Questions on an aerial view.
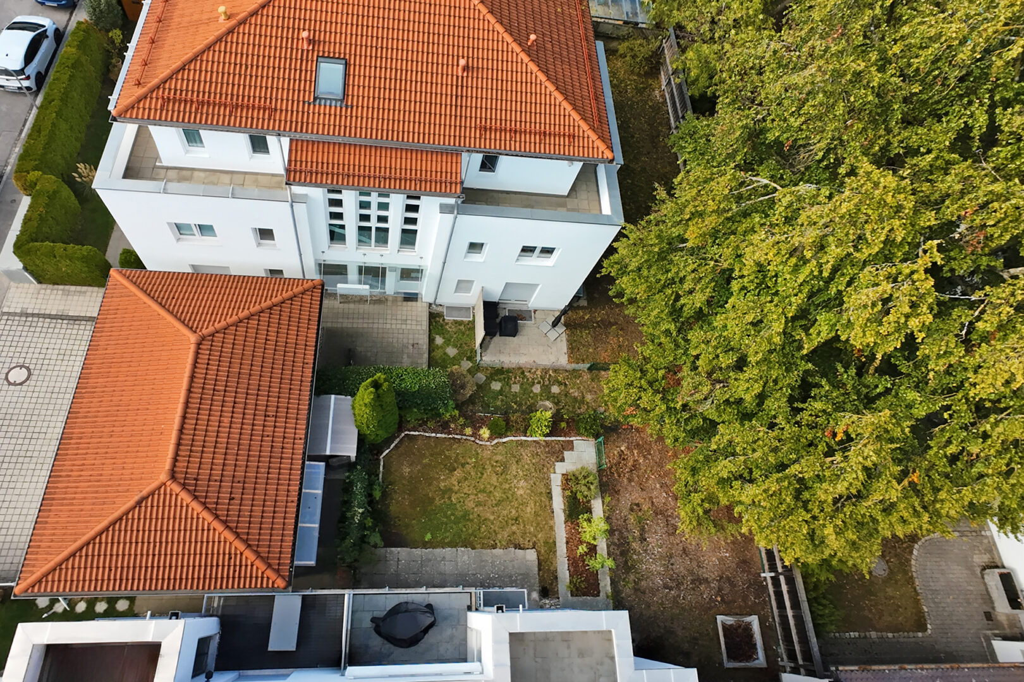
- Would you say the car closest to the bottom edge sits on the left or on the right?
left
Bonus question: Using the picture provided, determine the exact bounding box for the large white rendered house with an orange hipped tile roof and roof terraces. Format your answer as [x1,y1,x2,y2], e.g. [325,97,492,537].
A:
[95,0,622,313]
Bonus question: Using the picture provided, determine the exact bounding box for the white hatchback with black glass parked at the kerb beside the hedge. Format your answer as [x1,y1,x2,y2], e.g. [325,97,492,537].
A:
[0,8,63,96]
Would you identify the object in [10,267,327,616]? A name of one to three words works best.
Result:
building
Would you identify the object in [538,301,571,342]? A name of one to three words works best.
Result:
umbrella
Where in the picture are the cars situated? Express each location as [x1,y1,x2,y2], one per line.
[30,0,84,9]
[0,8,63,96]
